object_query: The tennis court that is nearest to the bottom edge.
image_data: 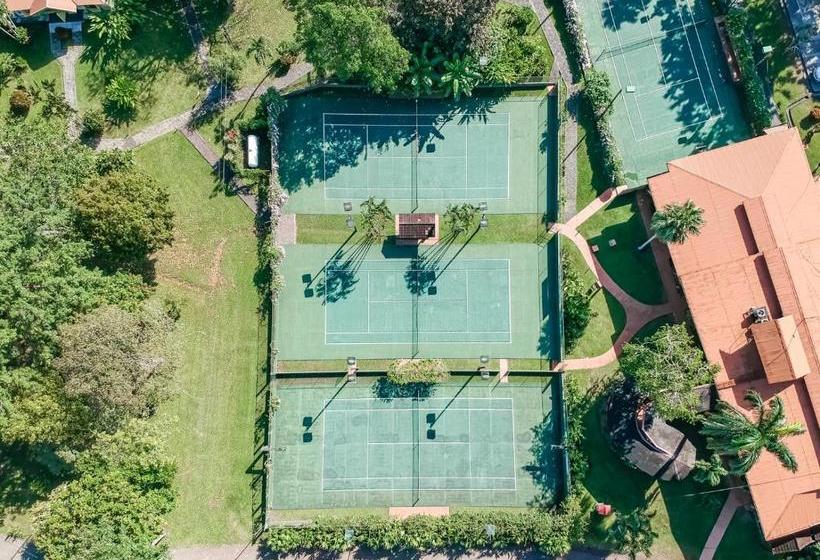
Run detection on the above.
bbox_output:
[269,387,564,510]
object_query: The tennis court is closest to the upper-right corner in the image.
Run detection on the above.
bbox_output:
[577,0,763,187]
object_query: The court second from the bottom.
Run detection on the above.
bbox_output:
[276,244,555,359]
